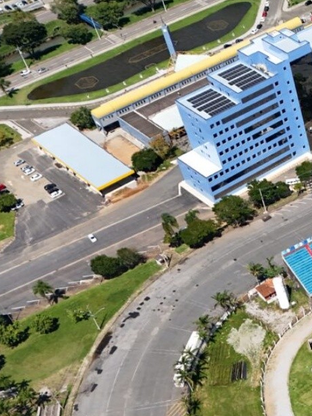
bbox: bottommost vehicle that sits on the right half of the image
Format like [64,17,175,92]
[182,337,204,361]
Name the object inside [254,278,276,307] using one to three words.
house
